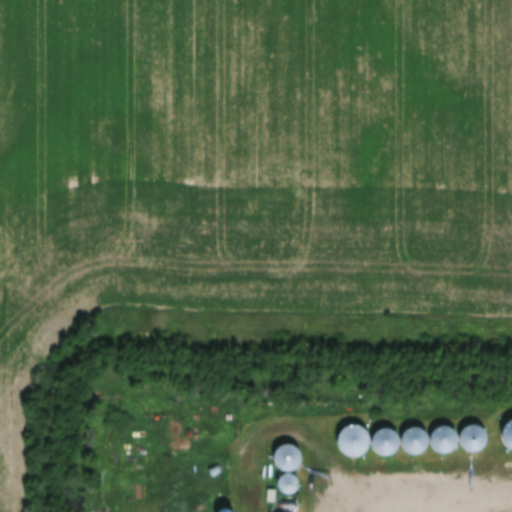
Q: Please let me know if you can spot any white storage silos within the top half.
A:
No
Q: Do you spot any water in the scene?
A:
No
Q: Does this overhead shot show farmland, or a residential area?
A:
farmland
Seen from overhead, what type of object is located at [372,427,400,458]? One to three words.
silo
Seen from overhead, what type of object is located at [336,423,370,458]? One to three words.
silo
